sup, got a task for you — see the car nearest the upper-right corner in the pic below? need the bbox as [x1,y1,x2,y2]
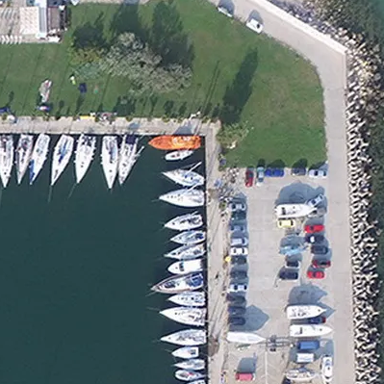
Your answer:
[246,18,264,33]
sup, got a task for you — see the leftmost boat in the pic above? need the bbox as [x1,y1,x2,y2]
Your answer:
[0,129,14,201]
